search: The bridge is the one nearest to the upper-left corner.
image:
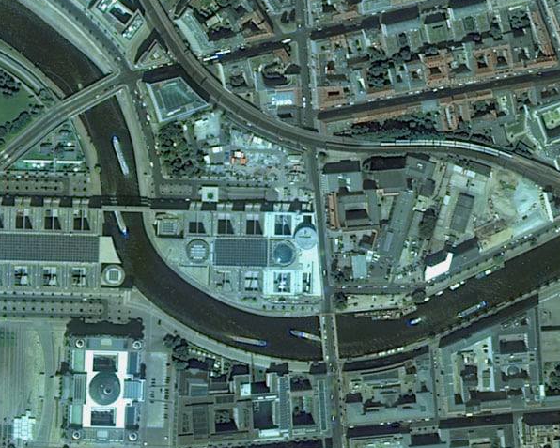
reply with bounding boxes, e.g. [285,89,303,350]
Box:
[54,68,126,121]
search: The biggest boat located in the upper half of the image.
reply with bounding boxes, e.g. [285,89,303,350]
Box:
[113,138,128,175]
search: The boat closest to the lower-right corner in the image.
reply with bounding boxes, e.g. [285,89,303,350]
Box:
[457,303,486,319]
